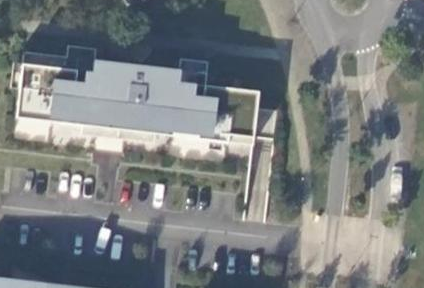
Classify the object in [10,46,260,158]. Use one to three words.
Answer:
building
